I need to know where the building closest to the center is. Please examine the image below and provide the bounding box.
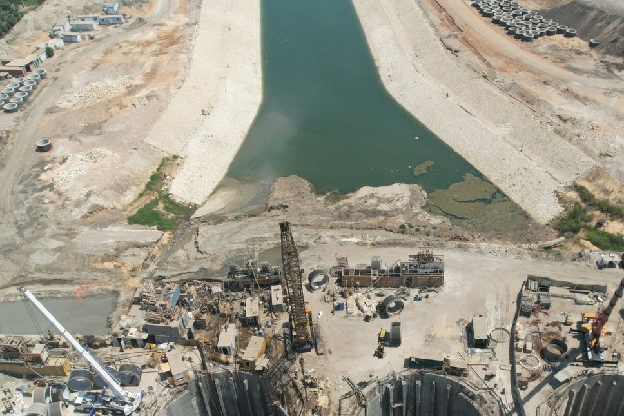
[272,285,288,316]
